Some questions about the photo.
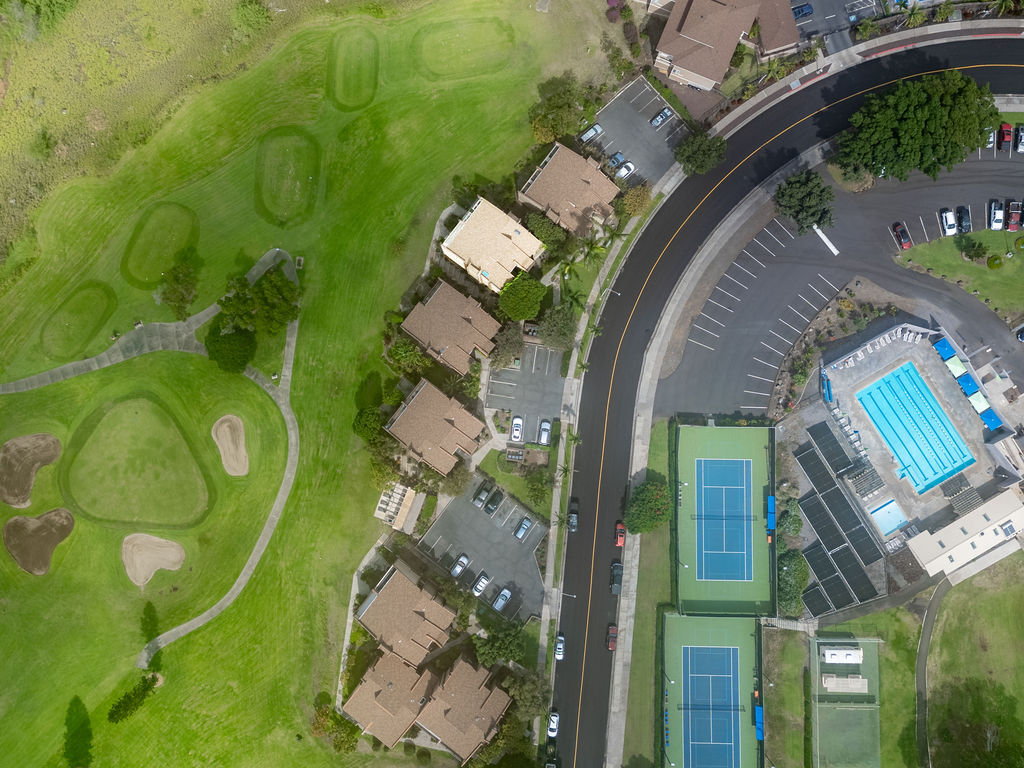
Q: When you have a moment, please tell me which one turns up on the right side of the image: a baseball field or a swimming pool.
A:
swimming pool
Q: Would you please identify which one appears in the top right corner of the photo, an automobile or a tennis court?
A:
automobile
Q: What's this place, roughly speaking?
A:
golf course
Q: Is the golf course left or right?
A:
left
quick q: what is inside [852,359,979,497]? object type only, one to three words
swimming pool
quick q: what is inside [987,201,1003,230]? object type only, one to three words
vehicle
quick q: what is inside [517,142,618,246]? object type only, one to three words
house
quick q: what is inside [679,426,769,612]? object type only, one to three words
tennis court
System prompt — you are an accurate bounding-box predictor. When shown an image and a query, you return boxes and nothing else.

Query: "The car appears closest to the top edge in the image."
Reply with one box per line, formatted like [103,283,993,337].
[795,4,815,20]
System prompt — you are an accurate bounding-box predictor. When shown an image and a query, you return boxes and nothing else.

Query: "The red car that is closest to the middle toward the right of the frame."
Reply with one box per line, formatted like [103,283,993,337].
[614,523,626,548]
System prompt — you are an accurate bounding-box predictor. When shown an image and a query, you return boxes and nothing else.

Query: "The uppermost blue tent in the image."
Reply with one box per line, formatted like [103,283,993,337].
[932,337,957,361]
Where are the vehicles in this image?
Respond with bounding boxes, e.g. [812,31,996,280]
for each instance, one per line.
[1005,202,1022,231]
[939,210,956,236]
[649,109,670,129]
[492,586,512,613]
[554,633,565,657]
[614,159,636,179]
[1019,202,1024,227]
[795,4,815,20]
[567,509,579,534]
[987,201,1003,230]
[512,515,534,541]
[473,480,496,507]
[471,572,492,593]
[606,151,627,170]
[484,489,505,513]
[511,416,522,441]
[545,736,556,761]
[893,224,910,249]
[579,122,604,145]
[450,553,470,575]
[614,523,626,548]
[1014,325,1024,347]
[606,624,618,649]
[609,563,622,593]
[547,711,558,736]
[999,124,1013,153]
[954,206,970,232]
[539,419,551,444]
